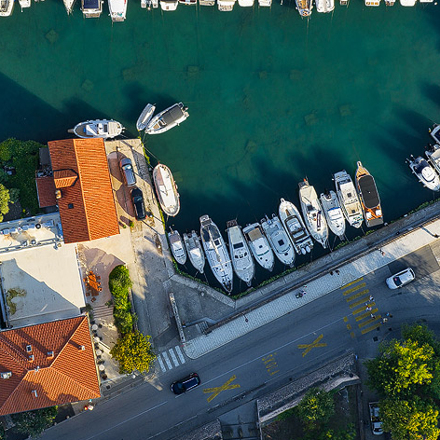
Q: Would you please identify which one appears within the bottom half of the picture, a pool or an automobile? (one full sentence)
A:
The one visible within the bottom half of the picture is an automobile.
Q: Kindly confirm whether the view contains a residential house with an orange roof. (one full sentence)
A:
Yes, the picture does show a residential house with an orange roof.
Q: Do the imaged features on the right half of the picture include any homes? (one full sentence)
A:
No, there's no home to be seen on the right half of the picture.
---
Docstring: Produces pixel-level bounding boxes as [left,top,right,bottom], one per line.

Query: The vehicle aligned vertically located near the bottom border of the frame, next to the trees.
[369,401,385,435]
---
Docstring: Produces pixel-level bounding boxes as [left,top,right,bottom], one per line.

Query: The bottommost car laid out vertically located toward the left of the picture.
[130,188,148,222]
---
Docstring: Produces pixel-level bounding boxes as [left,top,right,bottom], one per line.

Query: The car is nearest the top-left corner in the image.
[119,157,138,187]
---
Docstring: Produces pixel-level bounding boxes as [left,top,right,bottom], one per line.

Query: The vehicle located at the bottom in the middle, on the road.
[168,371,202,395]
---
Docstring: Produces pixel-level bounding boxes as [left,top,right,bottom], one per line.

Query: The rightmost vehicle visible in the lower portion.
[383,266,418,290]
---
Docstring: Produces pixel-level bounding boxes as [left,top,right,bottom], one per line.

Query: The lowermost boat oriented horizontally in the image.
[63,119,126,139]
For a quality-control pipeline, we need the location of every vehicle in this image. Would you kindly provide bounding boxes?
[369,401,385,435]
[130,188,148,222]
[383,266,418,290]
[168,371,202,395]
[119,157,138,187]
